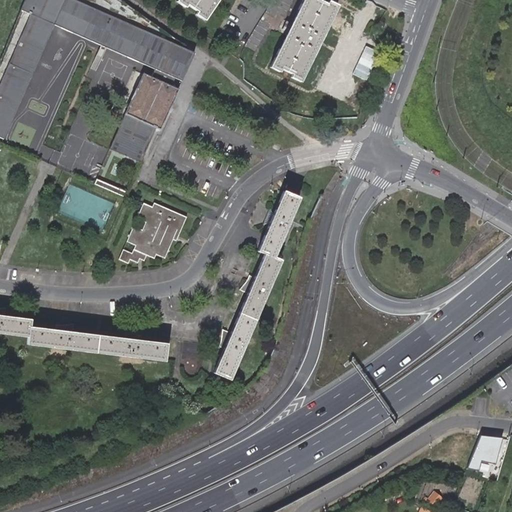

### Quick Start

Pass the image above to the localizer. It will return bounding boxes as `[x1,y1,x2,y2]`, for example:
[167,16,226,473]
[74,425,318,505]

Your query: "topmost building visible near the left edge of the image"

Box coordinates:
[0,0,196,141]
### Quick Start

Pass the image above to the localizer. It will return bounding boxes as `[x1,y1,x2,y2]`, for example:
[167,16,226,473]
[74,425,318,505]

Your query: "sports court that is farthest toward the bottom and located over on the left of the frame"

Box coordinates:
[58,184,116,232]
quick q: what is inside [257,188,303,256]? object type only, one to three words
building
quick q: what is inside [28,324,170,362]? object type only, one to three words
building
